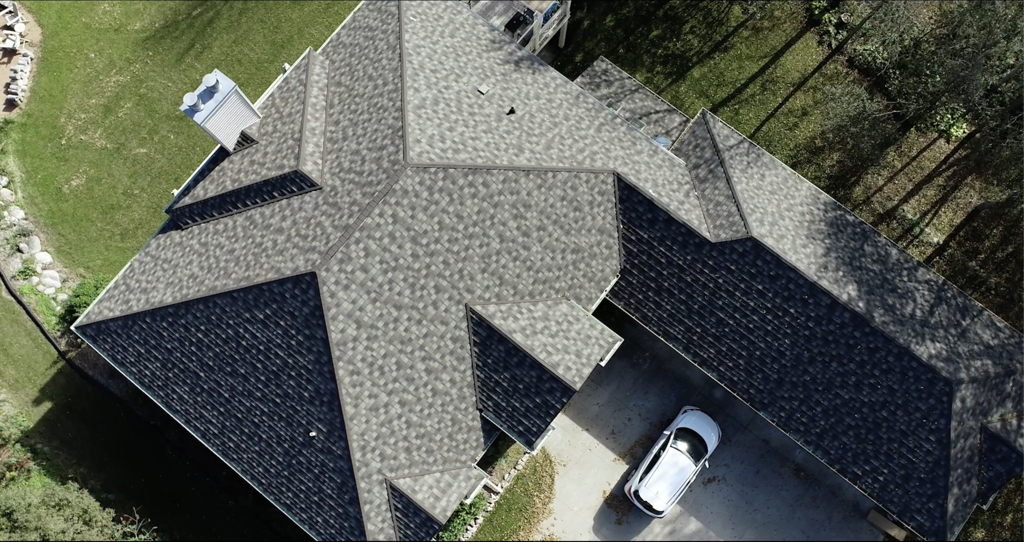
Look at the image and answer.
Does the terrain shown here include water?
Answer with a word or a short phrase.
No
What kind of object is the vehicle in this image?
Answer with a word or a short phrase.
car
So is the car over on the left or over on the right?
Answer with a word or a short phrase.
right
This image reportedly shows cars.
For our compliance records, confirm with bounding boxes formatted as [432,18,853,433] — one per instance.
[621,407,717,518]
